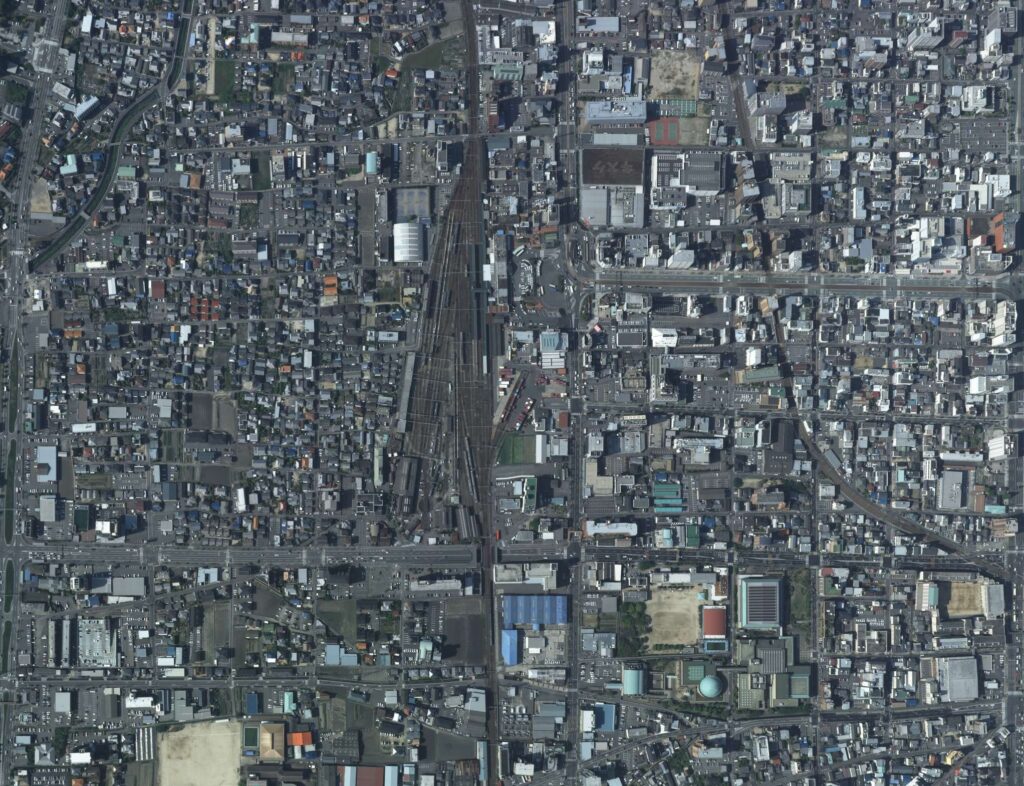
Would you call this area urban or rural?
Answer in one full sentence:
It looks urban.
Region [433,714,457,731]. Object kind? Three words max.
house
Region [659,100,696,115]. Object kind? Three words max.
sports court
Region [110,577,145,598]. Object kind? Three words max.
building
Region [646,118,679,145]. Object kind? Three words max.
tennis court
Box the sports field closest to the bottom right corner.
[939,584,977,618]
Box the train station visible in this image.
[461,165,509,397]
